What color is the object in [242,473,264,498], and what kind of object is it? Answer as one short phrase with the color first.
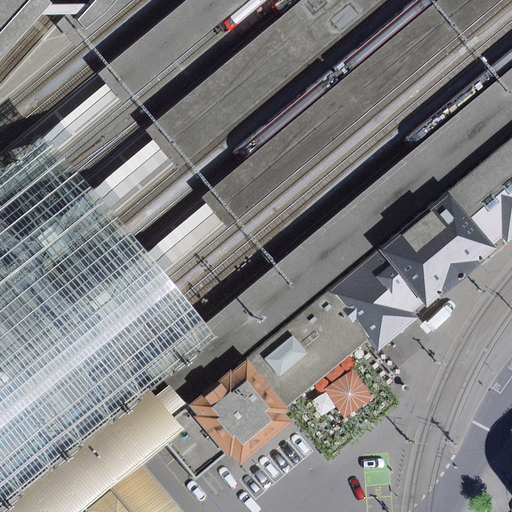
gray car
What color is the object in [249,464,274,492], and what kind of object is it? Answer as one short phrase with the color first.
gray car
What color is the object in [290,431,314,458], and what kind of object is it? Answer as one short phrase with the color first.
white car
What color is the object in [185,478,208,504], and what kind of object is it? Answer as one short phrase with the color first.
white car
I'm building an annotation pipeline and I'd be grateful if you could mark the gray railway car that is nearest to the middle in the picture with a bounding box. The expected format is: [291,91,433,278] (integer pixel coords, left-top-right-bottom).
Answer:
[236,66,345,160]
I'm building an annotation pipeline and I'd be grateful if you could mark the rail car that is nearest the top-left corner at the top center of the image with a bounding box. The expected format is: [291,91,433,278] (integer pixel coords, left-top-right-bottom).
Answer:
[212,0,270,39]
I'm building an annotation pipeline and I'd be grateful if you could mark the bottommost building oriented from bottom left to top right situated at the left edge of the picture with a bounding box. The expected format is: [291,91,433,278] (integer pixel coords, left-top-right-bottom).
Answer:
[10,393,184,512]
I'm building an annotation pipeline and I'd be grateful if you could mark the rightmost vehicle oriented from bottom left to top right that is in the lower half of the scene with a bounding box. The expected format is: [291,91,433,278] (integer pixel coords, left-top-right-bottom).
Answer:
[418,298,459,336]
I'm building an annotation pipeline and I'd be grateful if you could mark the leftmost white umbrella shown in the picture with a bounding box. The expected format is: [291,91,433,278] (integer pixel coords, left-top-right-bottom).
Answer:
[313,393,336,415]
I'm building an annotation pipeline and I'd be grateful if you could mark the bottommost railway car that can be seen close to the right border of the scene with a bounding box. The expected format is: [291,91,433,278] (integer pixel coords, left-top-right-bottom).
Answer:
[408,72,495,146]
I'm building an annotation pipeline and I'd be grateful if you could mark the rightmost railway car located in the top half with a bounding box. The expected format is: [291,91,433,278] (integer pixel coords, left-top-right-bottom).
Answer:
[491,49,512,78]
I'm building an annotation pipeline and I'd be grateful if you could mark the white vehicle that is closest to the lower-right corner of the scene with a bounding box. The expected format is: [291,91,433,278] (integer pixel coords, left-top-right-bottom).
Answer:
[362,458,386,470]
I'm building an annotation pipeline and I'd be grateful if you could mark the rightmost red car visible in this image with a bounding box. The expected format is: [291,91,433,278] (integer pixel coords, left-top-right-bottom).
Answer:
[348,476,366,502]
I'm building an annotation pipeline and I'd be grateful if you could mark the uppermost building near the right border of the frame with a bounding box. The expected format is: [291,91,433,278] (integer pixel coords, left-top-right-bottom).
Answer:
[448,138,512,247]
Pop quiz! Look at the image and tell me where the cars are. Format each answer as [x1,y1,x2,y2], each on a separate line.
[185,478,208,504]
[269,448,294,476]
[278,439,303,466]
[242,473,264,498]
[238,489,263,512]
[348,476,366,502]
[216,466,239,491]
[258,454,282,480]
[362,458,386,470]
[249,464,274,492]
[290,431,314,458]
